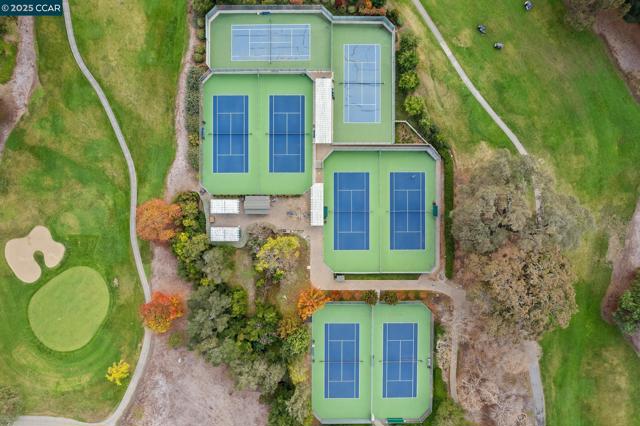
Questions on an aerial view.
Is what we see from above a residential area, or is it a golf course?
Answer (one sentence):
This image shows a golf course.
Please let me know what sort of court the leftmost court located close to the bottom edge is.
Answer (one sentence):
The leftmost court located close to the bottom edge appears to be a tennis court.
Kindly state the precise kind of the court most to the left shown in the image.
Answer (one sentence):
From above, the court most to the left can be identified as a tennis court.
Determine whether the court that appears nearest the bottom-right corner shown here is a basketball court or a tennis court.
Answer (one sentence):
Specifically, the court that appears nearest the bottom-right corner is a tennis court.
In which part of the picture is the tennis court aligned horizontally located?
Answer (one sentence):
The tennis court aligned horizontally appears toward the top of the photo.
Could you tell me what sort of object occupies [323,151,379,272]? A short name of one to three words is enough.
tennis court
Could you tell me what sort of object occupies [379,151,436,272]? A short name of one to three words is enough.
tennis court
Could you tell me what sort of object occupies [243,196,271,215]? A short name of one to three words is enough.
building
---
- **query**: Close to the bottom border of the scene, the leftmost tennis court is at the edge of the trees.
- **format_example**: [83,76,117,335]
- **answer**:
[312,304,372,420]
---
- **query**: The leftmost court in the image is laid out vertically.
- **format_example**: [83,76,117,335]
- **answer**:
[203,74,258,195]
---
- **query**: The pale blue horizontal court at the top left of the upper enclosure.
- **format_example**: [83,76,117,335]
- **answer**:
[211,13,332,71]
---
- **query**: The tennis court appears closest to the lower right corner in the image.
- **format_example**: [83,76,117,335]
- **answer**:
[374,304,431,420]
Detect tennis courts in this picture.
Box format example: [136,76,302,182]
[203,74,258,195]
[379,151,436,272]
[211,13,332,71]
[258,74,314,195]
[323,151,379,272]
[374,304,431,420]
[332,24,392,143]
[312,304,372,420]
